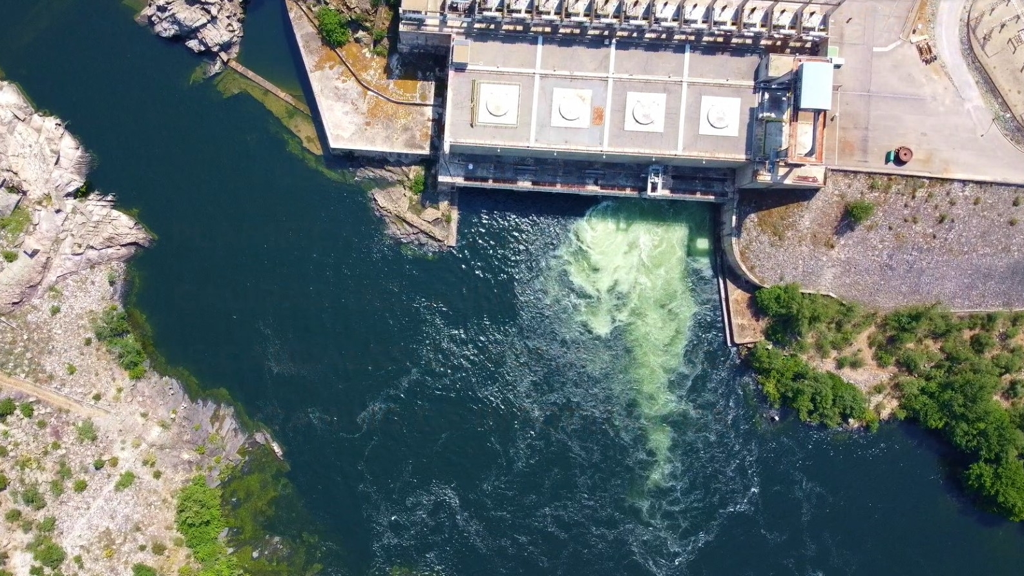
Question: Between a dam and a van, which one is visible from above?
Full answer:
This aerial view contains a dam.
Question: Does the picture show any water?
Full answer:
Yes, water can be seen from above here.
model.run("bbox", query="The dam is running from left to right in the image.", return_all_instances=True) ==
[399,0,832,61]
